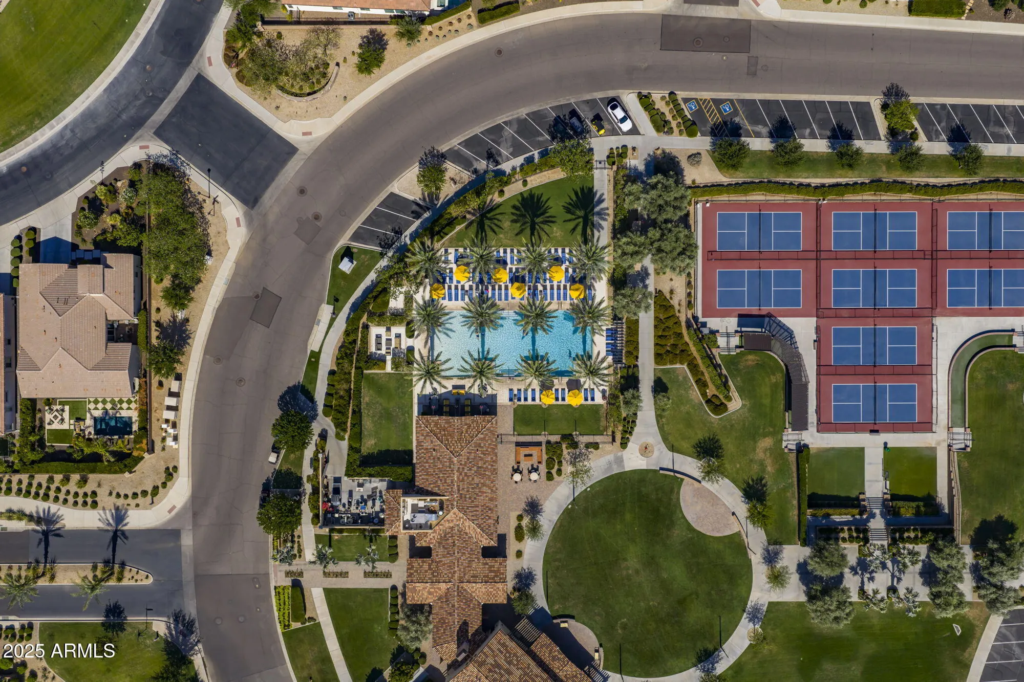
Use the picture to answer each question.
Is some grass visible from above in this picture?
Yes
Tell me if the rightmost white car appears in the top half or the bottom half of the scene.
top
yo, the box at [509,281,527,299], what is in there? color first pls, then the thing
yellow umbrella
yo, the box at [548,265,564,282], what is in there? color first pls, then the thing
yellow umbrella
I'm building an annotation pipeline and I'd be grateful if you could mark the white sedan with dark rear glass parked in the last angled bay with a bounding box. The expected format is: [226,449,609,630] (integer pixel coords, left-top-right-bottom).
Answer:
[607,100,631,130]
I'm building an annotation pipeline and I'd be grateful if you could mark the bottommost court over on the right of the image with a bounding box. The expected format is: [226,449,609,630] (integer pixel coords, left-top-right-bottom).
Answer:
[819,375,934,433]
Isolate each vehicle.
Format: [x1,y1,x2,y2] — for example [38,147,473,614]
[587,112,604,137]
[268,445,285,466]
[564,107,583,134]
[607,100,631,130]
[549,109,568,136]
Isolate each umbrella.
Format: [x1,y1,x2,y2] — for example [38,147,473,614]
[509,281,527,299]
[539,389,556,405]
[566,388,584,407]
[492,268,508,284]
[453,264,471,282]
[569,283,586,299]
[430,283,446,299]
[548,265,564,282]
